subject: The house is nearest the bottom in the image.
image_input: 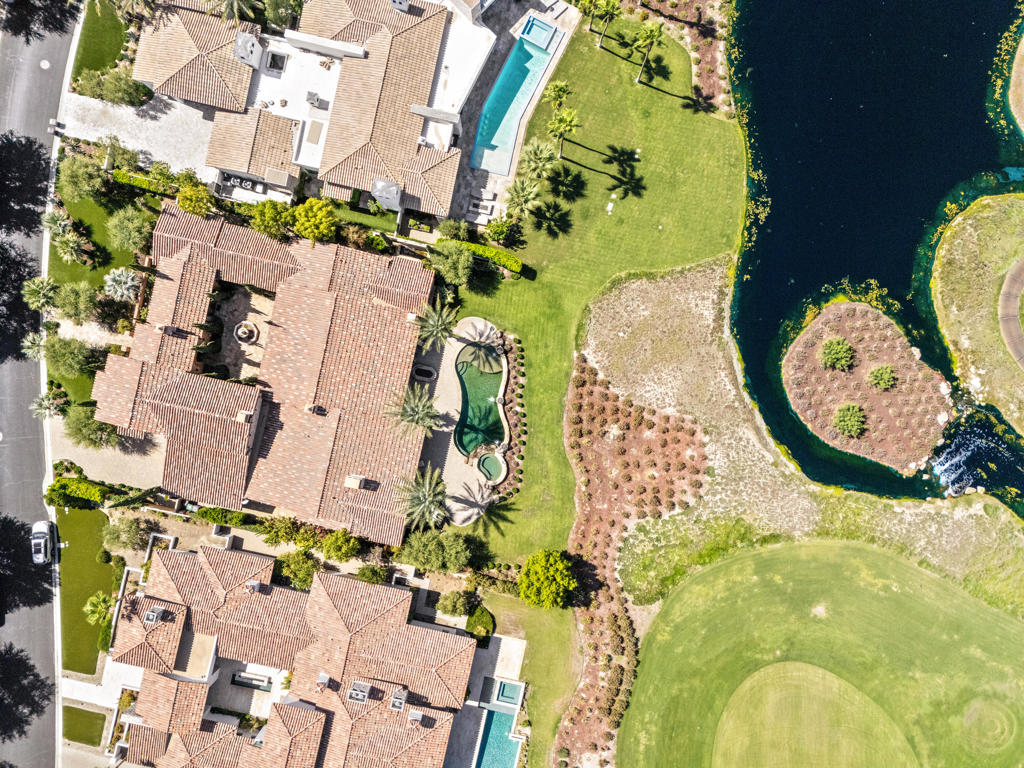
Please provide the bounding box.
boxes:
[112,543,476,768]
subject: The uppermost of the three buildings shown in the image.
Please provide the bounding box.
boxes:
[133,0,508,218]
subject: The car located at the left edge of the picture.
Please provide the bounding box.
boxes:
[28,520,55,565]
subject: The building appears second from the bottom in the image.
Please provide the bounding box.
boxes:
[91,205,436,547]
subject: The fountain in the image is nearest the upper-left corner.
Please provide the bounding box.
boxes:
[233,319,261,346]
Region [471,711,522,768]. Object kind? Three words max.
swimming pool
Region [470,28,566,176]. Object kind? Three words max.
swimming pool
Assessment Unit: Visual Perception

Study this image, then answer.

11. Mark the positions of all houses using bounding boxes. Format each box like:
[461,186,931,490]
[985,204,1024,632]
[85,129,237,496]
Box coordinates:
[91,205,436,547]
[133,0,508,218]
[112,543,476,768]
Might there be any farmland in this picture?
No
